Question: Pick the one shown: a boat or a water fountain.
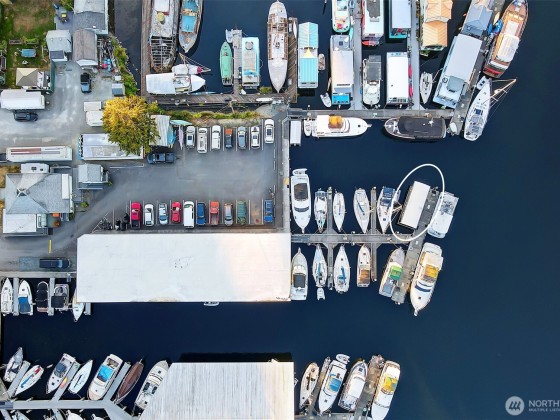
boat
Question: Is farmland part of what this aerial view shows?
No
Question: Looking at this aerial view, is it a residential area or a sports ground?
residential area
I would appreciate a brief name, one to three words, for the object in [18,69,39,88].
building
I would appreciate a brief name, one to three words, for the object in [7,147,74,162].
trailer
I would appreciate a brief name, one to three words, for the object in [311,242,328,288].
boat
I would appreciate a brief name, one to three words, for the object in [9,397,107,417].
pier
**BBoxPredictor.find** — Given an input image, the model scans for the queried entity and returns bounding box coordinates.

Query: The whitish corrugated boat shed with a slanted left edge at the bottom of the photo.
[137,351,294,420]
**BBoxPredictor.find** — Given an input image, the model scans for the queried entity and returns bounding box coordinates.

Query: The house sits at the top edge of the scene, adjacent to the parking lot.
[298,20,319,94]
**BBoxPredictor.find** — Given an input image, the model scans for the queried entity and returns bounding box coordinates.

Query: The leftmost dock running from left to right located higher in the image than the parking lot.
[141,94,291,106]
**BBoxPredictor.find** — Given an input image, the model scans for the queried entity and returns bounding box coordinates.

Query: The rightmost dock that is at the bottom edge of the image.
[355,355,382,416]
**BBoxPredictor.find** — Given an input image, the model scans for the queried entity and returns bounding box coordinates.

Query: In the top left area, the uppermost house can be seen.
[72,0,114,39]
